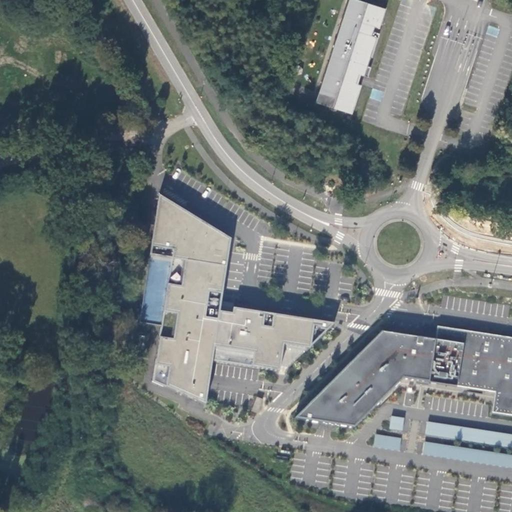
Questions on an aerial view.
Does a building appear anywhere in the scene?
Yes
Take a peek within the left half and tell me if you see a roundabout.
No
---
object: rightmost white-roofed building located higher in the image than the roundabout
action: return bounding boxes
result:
[316,0,384,115]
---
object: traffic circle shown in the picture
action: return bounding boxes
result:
[361,206,436,280]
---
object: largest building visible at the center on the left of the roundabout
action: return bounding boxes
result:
[144,194,334,402]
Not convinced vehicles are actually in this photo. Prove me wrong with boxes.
[340,294,351,300]
[442,24,450,36]
[280,450,291,454]
[276,454,290,460]
[202,187,212,198]
[172,168,180,179]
